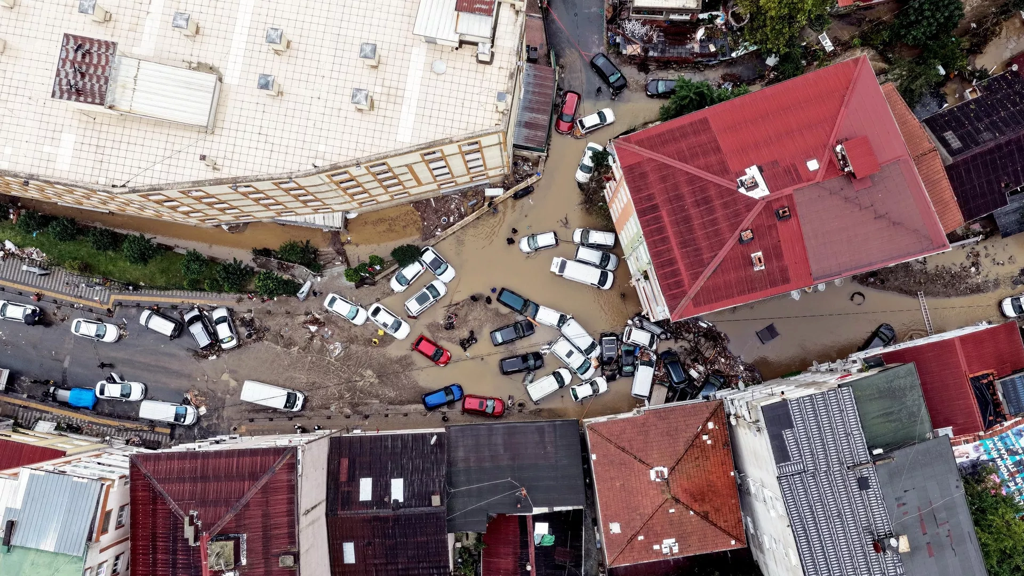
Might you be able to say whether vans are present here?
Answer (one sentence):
Yes, I can see a van in this picture.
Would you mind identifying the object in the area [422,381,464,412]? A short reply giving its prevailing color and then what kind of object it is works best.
blue car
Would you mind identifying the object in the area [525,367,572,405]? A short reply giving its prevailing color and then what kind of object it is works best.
white van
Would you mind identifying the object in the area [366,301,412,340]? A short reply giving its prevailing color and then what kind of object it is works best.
white car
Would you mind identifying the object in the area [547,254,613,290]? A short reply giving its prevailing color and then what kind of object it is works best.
white van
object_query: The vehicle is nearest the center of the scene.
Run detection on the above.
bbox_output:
[496,288,537,322]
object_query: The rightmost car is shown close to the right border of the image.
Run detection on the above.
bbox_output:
[996,291,1024,317]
